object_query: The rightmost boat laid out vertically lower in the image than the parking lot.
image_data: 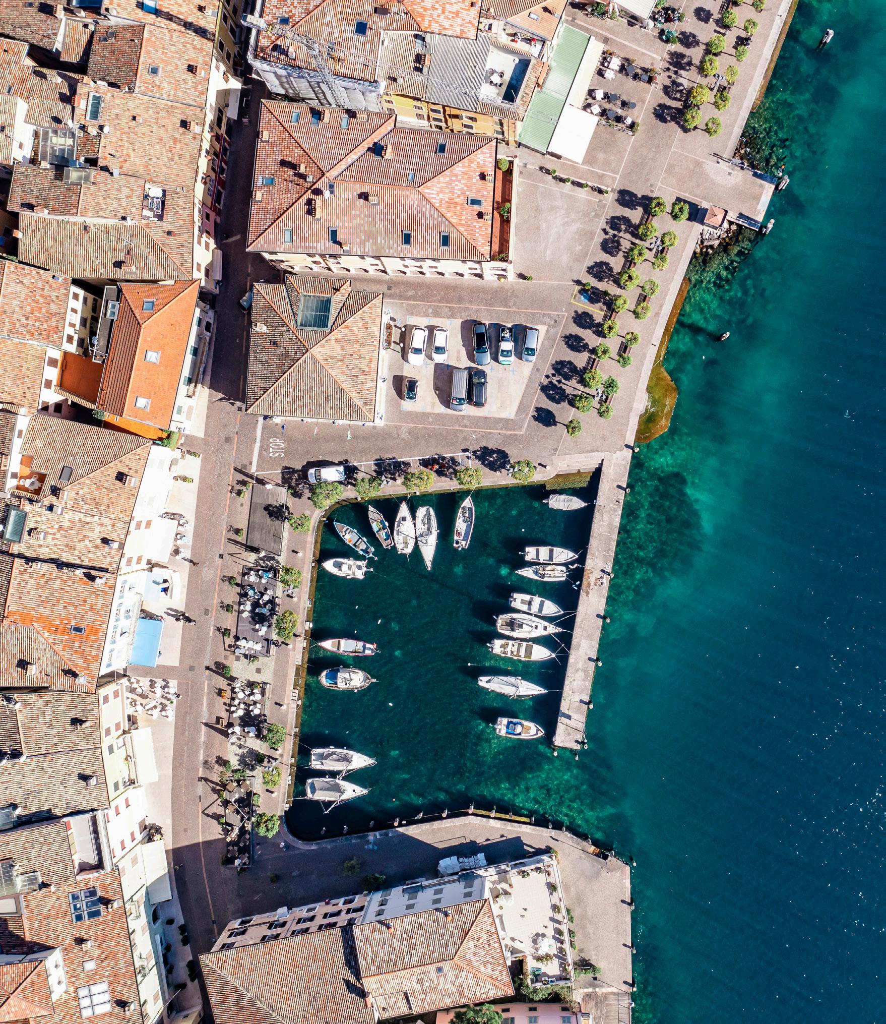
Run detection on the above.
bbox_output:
[451,491,474,553]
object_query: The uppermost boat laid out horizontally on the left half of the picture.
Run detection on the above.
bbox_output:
[314,559,373,581]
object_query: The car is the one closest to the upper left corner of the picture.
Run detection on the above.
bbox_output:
[238,279,254,311]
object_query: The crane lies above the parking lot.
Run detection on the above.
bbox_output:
[236,7,545,121]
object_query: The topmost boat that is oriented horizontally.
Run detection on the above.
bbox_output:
[543,494,588,510]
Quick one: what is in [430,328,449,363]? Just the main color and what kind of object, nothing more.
white car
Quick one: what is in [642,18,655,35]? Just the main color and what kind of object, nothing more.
white umbrella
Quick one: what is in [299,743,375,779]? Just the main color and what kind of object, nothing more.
white boat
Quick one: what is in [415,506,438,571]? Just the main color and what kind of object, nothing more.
white boat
